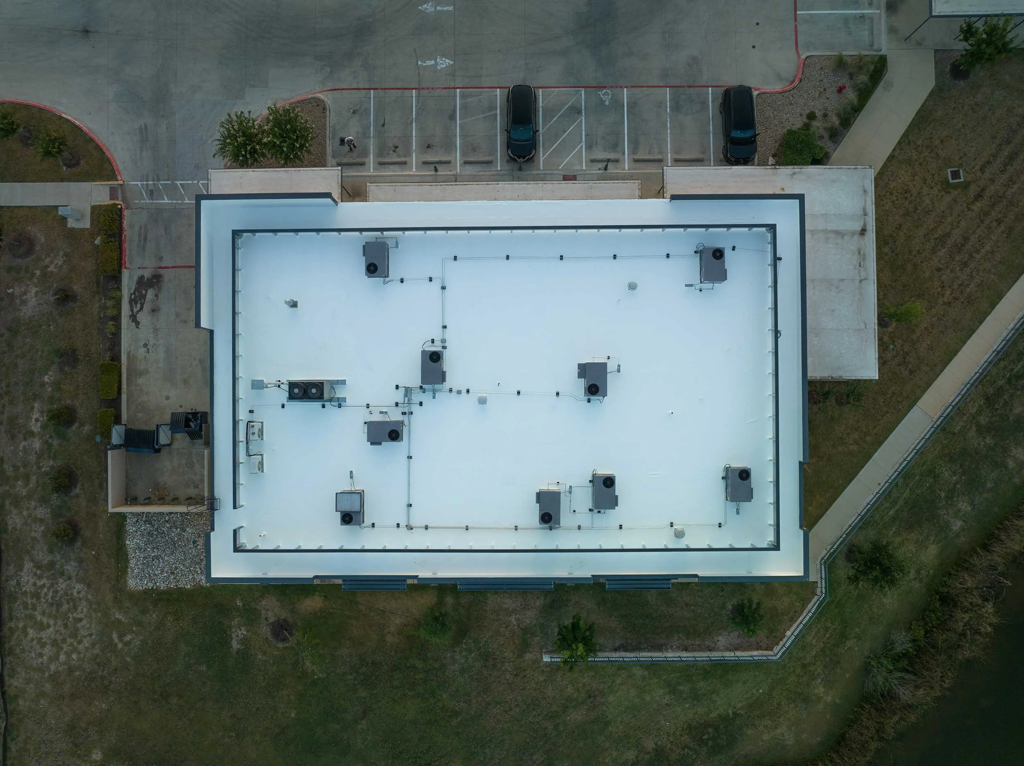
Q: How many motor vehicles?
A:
2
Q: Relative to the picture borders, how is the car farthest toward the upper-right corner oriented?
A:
vertically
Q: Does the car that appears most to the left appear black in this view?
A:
Yes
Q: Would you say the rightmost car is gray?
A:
No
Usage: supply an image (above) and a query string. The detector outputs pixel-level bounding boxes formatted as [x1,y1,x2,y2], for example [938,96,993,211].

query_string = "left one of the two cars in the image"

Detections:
[503,83,540,162]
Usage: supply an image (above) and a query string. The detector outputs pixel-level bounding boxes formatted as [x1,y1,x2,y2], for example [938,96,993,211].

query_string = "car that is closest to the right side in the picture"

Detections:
[720,85,761,163]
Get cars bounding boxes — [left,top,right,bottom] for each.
[720,85,761,163]
[503,83,540,162]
